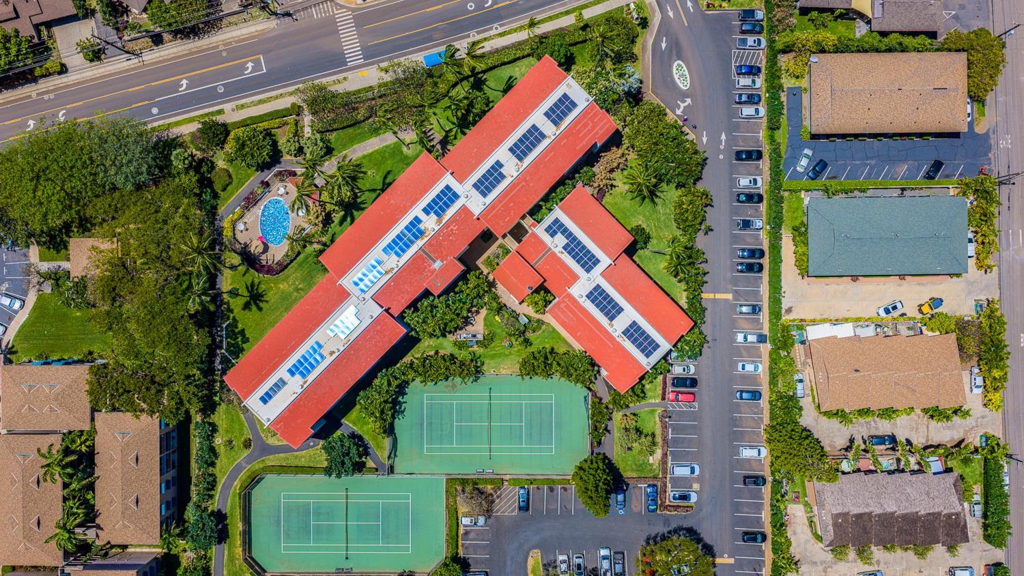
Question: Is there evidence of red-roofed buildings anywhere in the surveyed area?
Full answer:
Yes, the picture does show a red-roofed building.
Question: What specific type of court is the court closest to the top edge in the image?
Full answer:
From above, the court closest to the top edge can be identified as a tennis court.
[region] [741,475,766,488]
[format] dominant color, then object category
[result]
black vehicle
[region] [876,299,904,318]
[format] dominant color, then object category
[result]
white car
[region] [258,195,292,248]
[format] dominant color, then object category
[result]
blue swimming pool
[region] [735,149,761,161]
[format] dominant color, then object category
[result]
black vehicle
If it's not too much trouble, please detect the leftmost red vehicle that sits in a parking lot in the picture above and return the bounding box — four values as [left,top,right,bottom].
[668,391,694,404]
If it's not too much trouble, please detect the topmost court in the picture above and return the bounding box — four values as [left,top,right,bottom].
[390,376,591,474]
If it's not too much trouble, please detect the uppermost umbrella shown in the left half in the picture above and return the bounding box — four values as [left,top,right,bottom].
[250,238,264,252]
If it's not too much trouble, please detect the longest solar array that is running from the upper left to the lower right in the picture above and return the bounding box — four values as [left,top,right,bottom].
[542,217,599,274]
